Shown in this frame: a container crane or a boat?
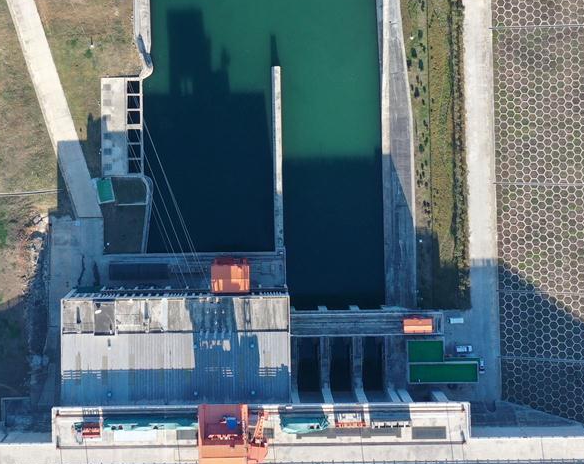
container crane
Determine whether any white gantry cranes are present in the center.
No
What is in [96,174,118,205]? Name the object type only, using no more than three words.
shed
